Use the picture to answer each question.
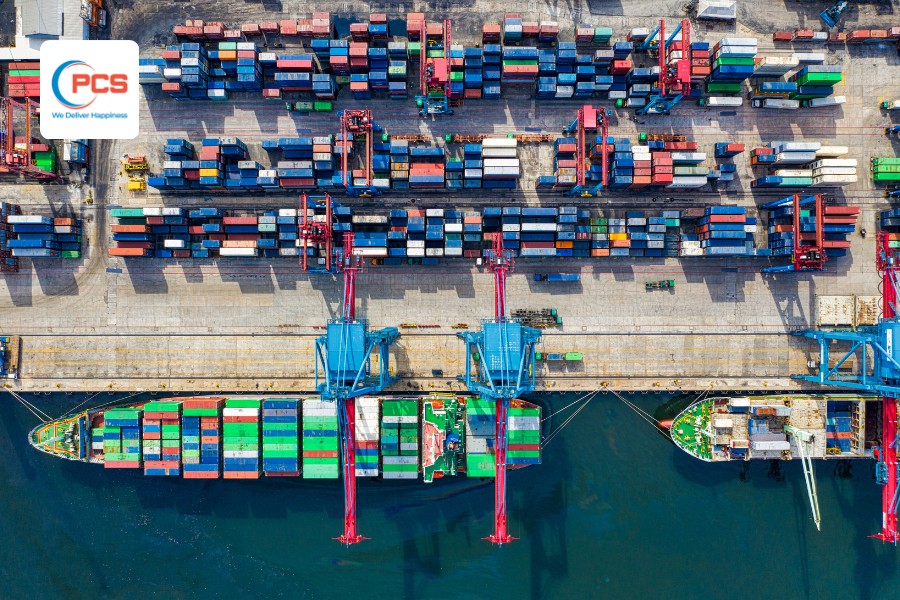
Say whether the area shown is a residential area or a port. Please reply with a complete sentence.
What you see here is a port.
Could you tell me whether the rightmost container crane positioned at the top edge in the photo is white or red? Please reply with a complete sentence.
The rightmost container crane positioned at the top edge looks red in the image.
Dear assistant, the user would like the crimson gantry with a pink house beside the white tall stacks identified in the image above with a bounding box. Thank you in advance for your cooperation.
[635,18,693,113]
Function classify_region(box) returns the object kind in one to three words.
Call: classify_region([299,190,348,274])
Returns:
container crane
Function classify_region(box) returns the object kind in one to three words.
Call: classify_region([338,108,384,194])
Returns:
container crane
